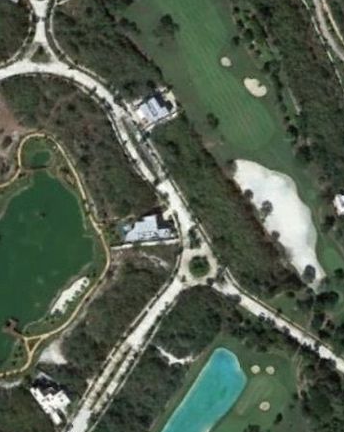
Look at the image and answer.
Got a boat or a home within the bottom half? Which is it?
home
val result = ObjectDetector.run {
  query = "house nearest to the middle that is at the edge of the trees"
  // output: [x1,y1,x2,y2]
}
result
[122,214,172,243]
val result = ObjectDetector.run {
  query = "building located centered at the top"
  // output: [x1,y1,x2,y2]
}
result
[134,90,177,126]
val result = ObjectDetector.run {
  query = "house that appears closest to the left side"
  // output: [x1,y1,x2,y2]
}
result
[31,374,71,425]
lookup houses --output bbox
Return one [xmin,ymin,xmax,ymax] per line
[122,214,172,243]
[134,90,177,126]
[333,193,344,216]
[31,374,71,425]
